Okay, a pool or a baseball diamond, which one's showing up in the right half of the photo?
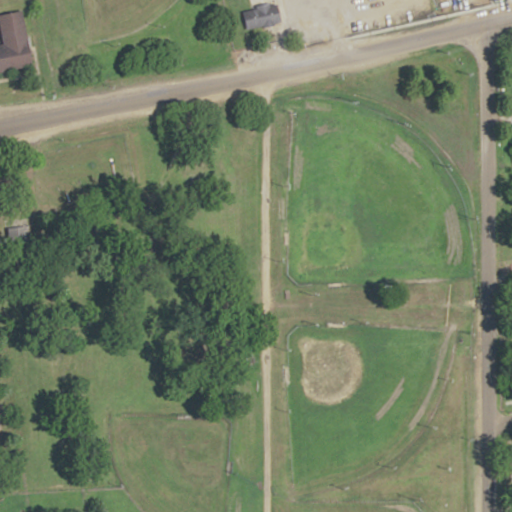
baseball diamond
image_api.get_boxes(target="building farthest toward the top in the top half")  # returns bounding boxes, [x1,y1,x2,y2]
[244,2,281,30]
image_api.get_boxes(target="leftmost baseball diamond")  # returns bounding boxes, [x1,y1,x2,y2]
[107,413,231,512]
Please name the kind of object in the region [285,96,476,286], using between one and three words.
baseball field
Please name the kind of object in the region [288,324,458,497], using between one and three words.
baseball field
